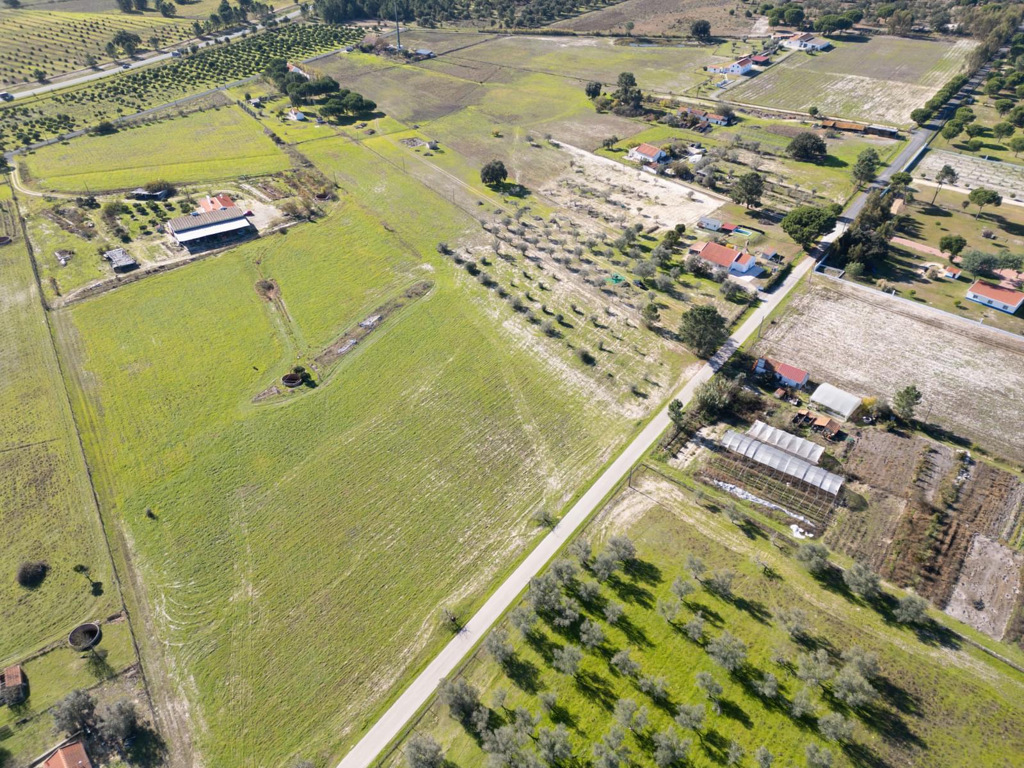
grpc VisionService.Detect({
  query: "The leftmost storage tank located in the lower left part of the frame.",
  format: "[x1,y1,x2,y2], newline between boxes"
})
[66,622,103,651]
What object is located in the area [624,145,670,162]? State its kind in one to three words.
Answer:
house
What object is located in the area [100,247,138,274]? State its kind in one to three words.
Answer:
shed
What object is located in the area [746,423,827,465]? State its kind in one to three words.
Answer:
greenhouse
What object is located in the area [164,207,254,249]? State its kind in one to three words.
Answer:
barn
